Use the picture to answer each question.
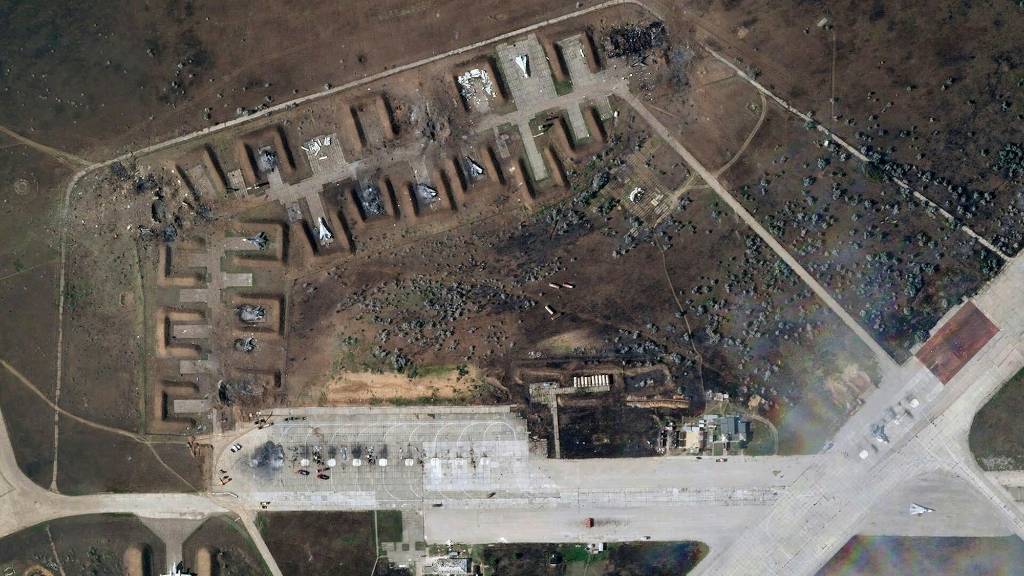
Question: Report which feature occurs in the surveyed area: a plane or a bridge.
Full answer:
I can see a plane in this picture.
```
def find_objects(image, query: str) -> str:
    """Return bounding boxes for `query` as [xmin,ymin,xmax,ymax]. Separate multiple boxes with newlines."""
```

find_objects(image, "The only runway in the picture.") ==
[688,247,1024,576]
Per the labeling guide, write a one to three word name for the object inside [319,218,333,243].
airplane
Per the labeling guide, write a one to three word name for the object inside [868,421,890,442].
airplane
